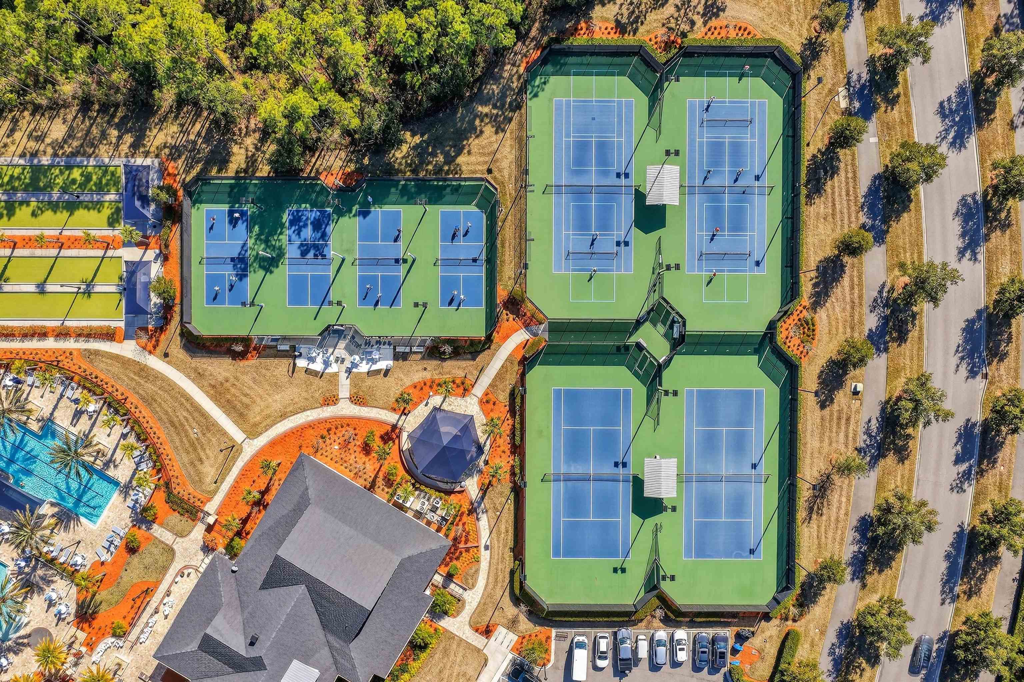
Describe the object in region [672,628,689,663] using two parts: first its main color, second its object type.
white car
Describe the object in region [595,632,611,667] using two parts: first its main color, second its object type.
white car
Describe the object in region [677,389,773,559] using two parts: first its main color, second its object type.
blue tennis court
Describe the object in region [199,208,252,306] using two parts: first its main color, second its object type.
blue sports court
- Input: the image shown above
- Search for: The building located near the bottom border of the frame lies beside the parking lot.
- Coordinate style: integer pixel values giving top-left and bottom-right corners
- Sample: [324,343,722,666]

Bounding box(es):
[153,452,452,682]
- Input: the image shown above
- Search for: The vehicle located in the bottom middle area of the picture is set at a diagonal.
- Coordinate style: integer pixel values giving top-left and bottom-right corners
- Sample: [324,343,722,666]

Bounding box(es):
[503,656,542,682]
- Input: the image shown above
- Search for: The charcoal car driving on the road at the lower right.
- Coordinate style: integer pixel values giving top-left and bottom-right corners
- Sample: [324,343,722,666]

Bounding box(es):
[908,636,931,674]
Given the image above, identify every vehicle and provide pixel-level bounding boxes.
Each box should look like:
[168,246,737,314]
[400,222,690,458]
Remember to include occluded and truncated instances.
[617,626,634,671]
[672,628,689,663]
[695,631,712,667]
[503,656,542,682]
[570,630,588,681]
[595,632,611,667]
[636,633,647,655]
[908,636,931,674]
[653,630,669,666]
[713,632,730,667]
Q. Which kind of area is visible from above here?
sports ground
